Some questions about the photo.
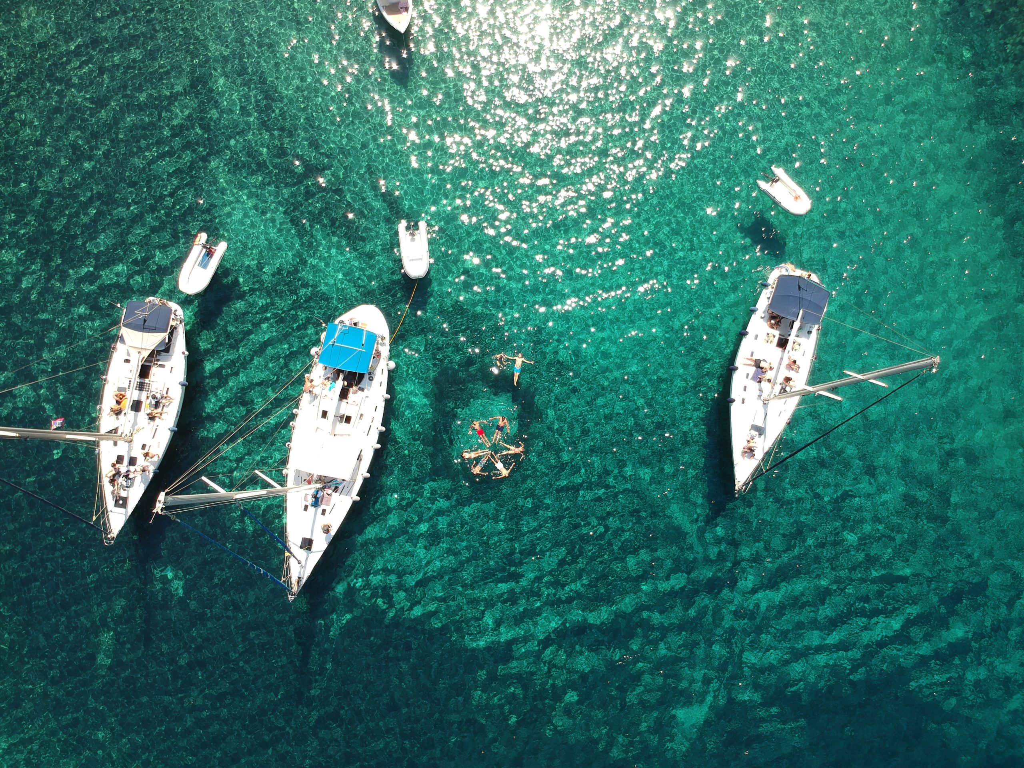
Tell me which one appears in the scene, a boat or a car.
boat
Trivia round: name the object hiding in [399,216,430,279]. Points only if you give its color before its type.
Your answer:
white boat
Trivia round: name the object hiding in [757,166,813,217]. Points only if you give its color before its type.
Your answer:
white boat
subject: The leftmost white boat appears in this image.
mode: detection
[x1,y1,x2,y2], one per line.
[0,297,191,545]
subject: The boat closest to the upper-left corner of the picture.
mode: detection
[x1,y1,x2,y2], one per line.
[179,231,227,296]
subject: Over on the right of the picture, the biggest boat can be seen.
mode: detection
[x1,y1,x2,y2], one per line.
[729,260,947,497]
